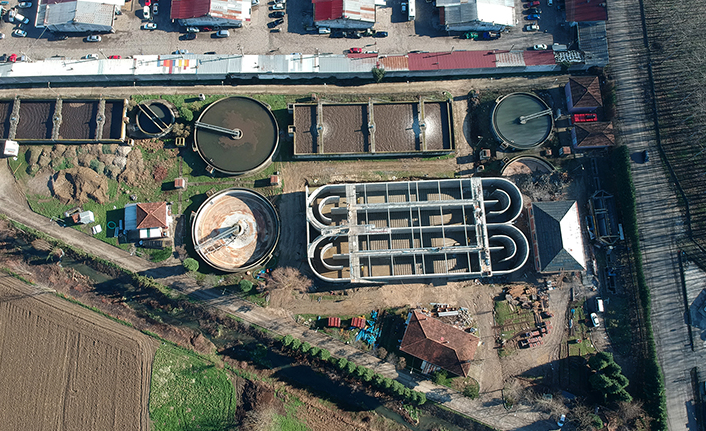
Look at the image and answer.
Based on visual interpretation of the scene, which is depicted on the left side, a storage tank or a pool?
storage tank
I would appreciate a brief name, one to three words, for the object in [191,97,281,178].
storage tank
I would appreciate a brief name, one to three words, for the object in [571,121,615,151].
building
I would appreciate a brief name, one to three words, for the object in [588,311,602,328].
vehicle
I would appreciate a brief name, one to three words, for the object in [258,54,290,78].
shed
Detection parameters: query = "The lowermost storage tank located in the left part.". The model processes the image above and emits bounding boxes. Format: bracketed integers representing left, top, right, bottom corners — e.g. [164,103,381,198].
[188,187,282,276]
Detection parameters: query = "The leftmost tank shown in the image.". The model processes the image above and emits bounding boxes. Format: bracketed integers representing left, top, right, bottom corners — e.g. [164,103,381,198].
[0,100,132,143]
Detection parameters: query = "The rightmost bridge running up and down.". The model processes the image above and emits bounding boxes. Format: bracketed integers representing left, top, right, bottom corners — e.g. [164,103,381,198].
[470,177,494,277]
